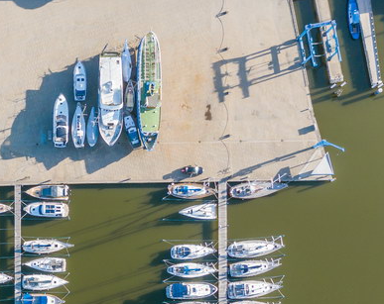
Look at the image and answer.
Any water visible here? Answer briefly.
Yes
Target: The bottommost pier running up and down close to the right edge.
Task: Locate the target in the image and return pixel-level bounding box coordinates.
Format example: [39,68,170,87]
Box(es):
[360,12,383,86]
